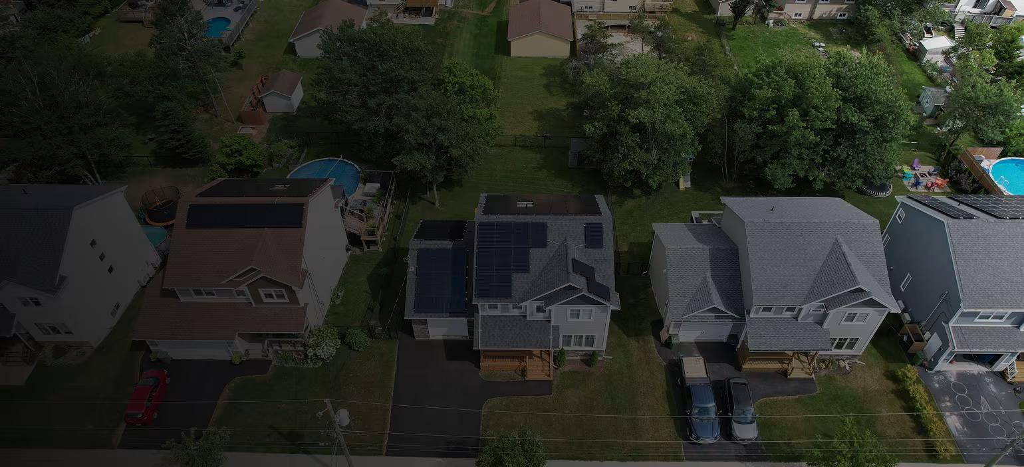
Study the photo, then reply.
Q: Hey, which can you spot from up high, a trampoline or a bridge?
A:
trampoline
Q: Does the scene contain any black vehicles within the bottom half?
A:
Yes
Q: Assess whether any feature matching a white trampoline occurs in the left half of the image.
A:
No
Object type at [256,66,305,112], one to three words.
shed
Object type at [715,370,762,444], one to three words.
car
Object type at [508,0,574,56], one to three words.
building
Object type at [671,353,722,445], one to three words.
truck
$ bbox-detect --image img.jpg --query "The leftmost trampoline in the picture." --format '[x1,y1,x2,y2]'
[130,184,181,228]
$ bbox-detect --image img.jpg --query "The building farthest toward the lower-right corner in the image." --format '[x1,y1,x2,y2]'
[882,195,1024,371]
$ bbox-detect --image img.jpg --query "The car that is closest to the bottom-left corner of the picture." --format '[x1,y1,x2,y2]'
[123,367,174,430]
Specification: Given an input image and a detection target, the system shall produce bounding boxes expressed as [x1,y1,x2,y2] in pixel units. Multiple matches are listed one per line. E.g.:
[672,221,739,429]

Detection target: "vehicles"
[123,367,174,430]
[715,370,762,444]
[671,353,722,445]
